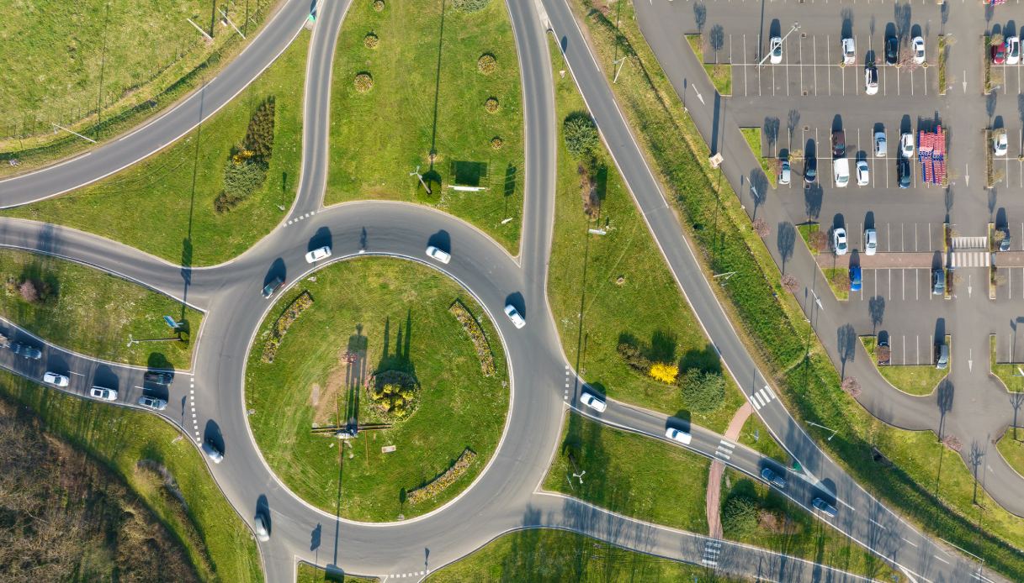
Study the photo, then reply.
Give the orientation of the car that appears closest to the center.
diagonally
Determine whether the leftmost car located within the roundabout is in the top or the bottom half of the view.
bottom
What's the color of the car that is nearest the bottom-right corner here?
blue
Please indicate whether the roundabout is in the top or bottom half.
bottom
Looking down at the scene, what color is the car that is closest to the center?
white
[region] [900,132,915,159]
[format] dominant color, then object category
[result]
white car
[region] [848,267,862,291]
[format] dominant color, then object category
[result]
blue car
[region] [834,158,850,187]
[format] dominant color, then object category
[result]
white vehicle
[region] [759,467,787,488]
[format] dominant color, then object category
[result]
blue car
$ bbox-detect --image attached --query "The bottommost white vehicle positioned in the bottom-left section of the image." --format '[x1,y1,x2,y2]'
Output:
[255,515,270,540]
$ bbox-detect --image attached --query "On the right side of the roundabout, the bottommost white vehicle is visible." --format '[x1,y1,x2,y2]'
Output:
[664,426,693,445]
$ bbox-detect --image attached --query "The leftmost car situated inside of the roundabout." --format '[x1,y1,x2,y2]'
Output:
[201,441,224,464]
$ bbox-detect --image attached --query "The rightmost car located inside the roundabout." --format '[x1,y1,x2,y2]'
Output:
[505,305,527,329]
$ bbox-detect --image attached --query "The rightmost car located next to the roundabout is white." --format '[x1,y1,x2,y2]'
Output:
[581,393,606,412]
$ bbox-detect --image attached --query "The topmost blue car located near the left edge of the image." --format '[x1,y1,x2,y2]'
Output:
[12,342,40,358]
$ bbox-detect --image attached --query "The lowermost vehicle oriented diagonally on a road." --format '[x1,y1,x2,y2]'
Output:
[811,497,838,518]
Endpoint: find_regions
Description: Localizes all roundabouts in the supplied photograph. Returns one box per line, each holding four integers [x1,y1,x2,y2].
[186,199,569,583]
